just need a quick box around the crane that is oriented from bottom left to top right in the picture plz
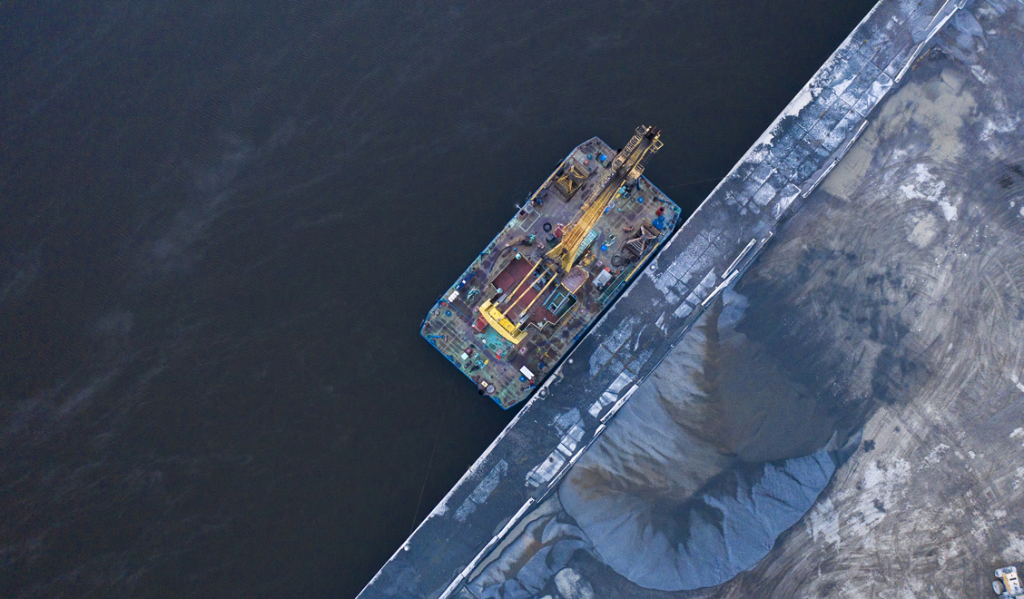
[479,125,664,344]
